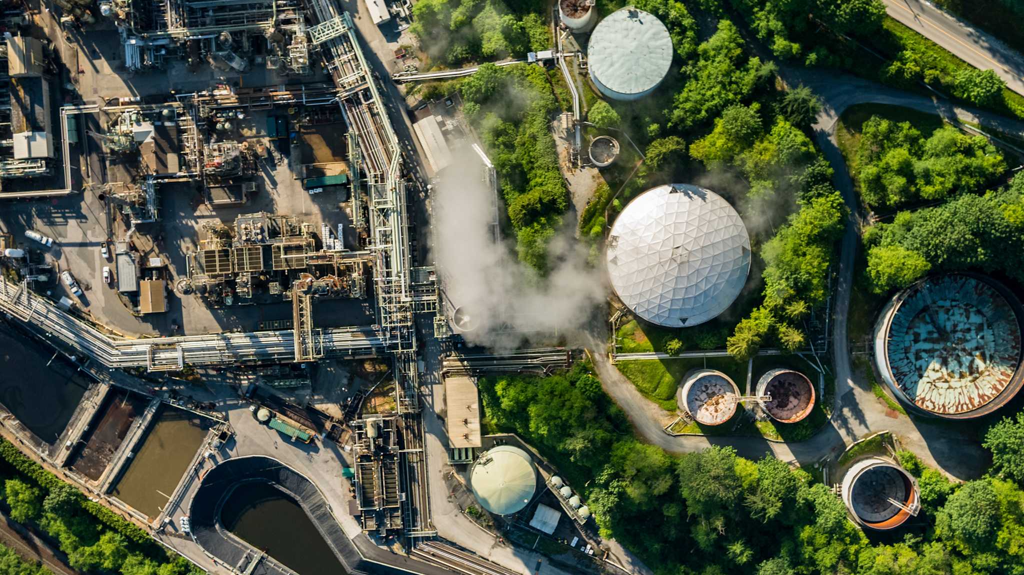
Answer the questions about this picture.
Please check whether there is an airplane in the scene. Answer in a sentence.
No, there is no airplane in the image.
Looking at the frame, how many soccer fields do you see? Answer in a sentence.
The photo contains no soccer fields.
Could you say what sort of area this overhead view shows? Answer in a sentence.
This image shows an industrial area.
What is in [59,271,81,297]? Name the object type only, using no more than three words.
truck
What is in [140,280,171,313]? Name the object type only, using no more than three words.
shed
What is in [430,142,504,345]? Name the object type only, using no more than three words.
cooling tower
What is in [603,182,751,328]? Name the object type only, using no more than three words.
storage tank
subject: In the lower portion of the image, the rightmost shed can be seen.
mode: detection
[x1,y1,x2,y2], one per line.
[446,375,482,448]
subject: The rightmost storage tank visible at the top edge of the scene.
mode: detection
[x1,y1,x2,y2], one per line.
[580,7,675,108]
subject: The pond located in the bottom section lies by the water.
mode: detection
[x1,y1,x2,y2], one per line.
[188,454,373,575]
